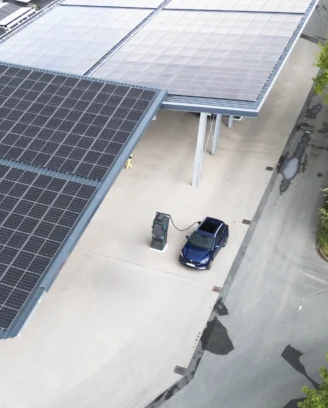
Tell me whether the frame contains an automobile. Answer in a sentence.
Yes, there is an automobile in the image.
